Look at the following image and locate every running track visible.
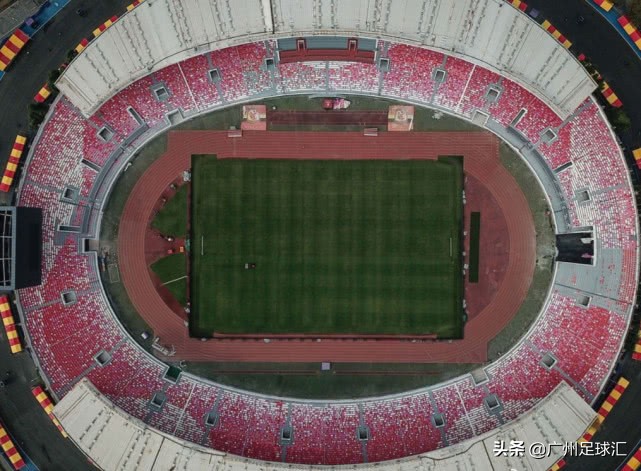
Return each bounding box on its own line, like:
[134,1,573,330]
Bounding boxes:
[118,131,536,363]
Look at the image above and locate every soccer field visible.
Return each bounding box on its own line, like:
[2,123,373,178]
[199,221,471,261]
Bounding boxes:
[190,154,464,339]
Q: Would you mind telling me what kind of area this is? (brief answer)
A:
sports ground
